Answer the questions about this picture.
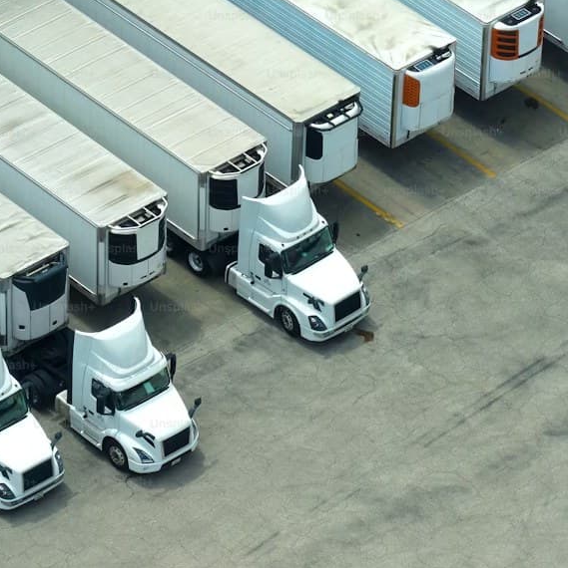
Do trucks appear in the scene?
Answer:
Yes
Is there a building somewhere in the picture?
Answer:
No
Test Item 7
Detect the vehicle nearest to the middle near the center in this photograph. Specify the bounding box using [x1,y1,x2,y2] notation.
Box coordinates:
[166,166,369,341]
